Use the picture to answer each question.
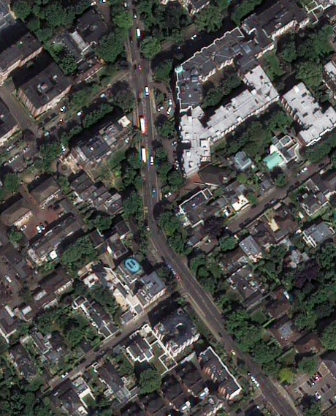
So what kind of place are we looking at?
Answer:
residential area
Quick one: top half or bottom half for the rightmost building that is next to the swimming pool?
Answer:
bottom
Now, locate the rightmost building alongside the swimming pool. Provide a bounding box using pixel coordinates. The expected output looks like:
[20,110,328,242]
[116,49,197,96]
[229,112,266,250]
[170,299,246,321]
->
[136,271,166,310]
